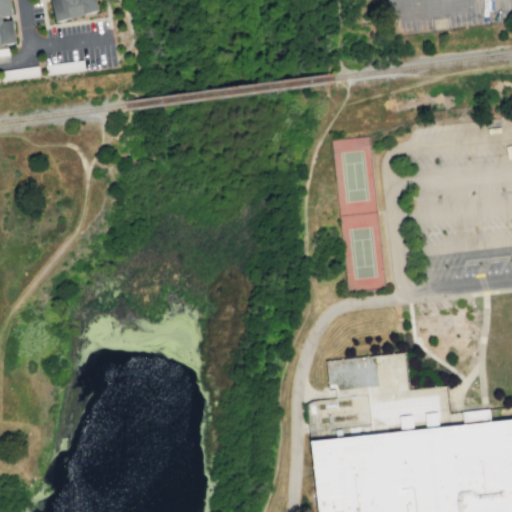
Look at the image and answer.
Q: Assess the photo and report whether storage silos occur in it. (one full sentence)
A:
No, there is no storage silo in the image.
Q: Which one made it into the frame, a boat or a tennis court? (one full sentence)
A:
This aerial view contains a tennis court.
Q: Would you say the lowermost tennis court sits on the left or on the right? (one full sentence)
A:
It is on the right.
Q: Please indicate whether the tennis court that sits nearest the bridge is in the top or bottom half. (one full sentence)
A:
Seen from above, the tennis court that sits nearest the bridge lies in the top half of the view.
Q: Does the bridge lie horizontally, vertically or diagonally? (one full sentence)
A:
The bridge runs horizontally in the image.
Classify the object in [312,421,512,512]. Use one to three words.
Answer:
building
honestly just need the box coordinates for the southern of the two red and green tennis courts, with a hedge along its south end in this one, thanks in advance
[341,212,385,291]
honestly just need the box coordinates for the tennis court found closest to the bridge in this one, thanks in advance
[334,138,378,215]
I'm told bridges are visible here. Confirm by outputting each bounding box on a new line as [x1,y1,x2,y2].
[124,75,335,109]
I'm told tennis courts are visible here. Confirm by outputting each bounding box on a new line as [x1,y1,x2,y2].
[334,138,378,215]
[341,212,385,291]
